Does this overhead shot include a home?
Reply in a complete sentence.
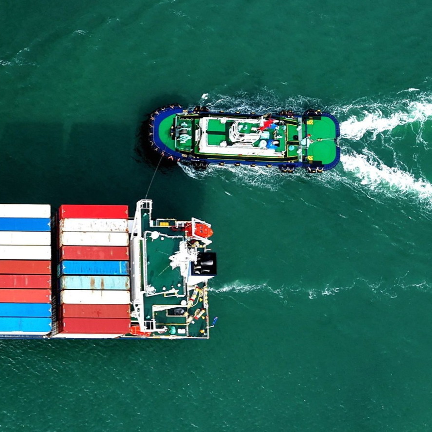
No, the photo shows no home.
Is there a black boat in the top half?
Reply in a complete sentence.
No, there's no black boat to be seen in the top half.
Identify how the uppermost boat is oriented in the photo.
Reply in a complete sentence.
The uppermost boat has been laid out horizontally relative to the frame.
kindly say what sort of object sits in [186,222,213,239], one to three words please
boat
